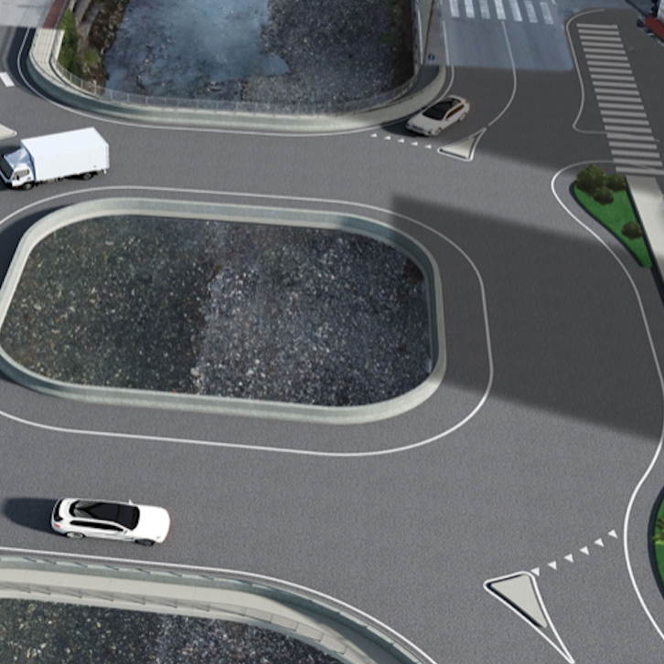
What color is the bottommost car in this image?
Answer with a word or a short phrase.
white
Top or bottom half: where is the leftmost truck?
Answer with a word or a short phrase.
top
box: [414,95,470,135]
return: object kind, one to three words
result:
car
